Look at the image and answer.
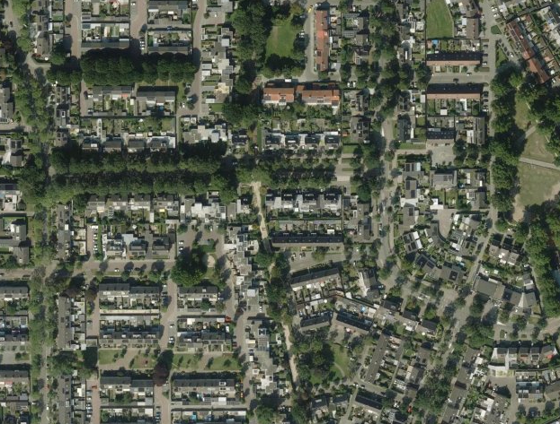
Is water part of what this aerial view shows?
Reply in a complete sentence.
No, water can't be seen anywhere here.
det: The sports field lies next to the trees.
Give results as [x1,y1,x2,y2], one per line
[520,165,560,205]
